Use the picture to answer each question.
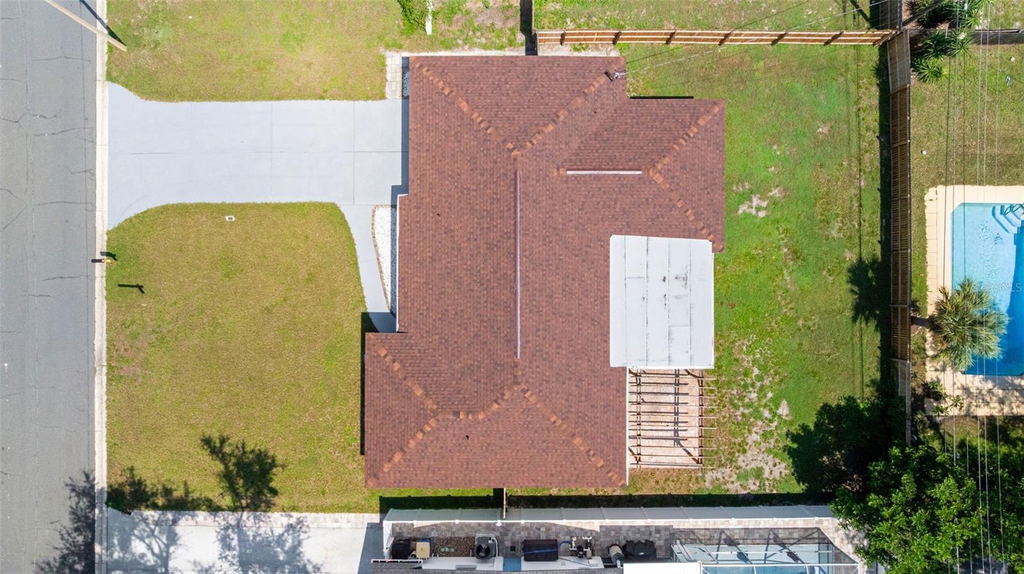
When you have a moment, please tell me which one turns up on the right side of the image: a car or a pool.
pool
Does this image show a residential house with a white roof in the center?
No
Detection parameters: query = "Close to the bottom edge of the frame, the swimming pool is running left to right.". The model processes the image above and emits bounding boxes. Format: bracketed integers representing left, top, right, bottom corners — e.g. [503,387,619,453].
[676,543,838,574]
